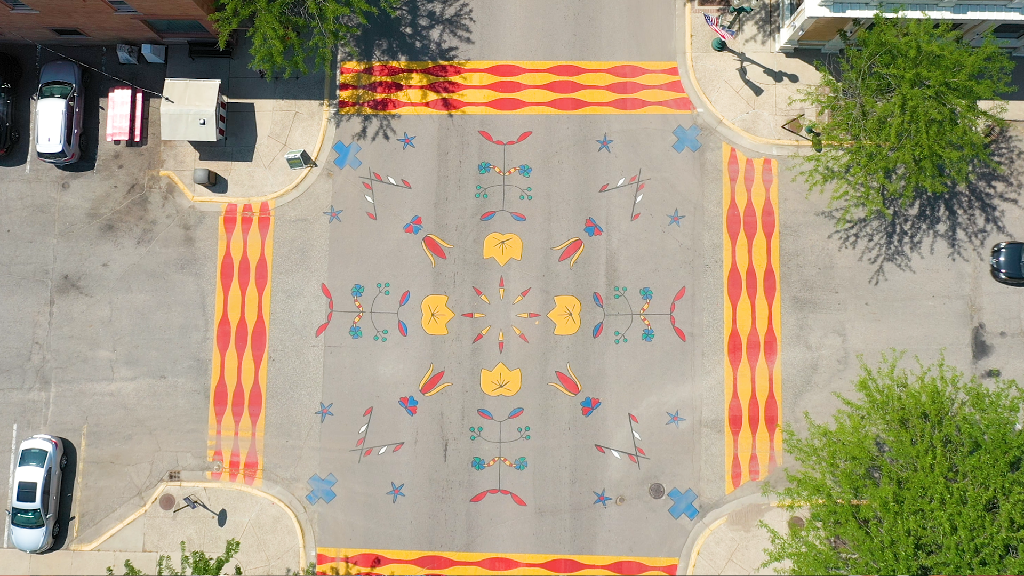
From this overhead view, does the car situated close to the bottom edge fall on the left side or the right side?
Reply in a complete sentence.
The car situated close to the bottom edge sits on the left side.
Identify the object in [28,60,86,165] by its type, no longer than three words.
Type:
car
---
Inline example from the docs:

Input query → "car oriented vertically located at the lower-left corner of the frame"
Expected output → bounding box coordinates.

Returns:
[3,430,69,552]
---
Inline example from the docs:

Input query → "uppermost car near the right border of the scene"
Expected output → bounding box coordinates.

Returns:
[987,242,1024,285]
